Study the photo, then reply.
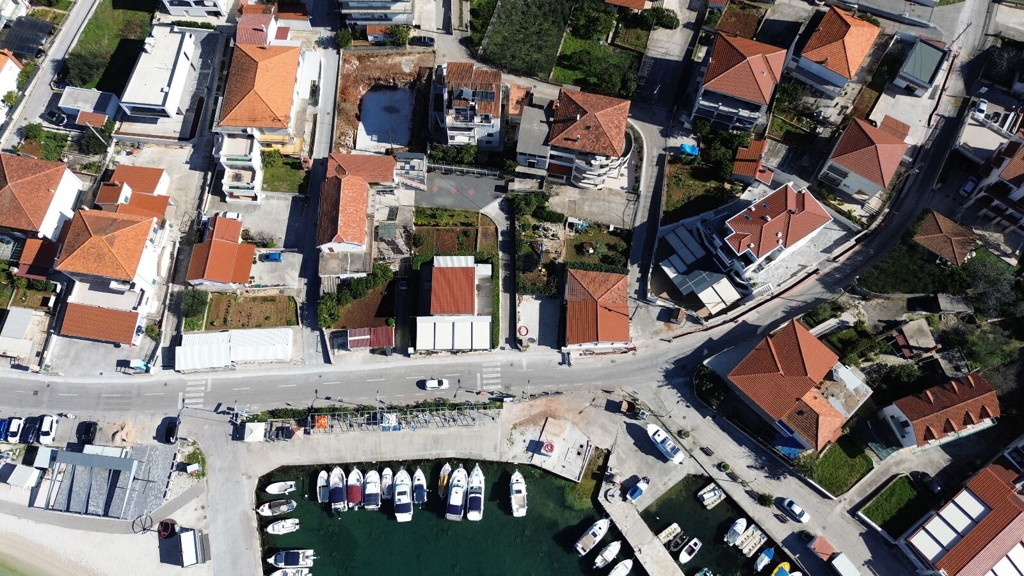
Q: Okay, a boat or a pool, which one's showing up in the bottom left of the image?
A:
boat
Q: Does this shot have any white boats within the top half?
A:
No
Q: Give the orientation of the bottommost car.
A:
diagonally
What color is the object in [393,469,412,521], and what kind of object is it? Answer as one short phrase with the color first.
white boat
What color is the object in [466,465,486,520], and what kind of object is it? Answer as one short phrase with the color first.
white boat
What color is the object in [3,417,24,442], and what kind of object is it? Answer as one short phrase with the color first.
white car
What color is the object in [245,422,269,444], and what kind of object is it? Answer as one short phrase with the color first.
white tent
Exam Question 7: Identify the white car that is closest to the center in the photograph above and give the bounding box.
[425,376,448,389]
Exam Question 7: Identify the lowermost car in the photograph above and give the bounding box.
[783,497,812,525]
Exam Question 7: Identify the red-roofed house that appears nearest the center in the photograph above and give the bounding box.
[431,267,476,316]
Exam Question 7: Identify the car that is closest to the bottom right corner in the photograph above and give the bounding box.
[922,471,945,494]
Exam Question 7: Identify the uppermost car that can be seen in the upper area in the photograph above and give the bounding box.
[410,32,435,44]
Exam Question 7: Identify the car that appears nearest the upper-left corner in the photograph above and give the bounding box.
[42,107,66,123]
